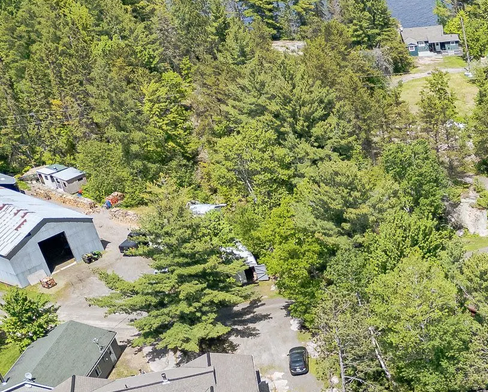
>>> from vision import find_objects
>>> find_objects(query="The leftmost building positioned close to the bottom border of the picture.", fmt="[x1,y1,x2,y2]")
[0,322,119,392]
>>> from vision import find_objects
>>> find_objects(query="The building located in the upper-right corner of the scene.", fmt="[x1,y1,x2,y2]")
[404,25,472,58]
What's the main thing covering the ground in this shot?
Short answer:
trees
